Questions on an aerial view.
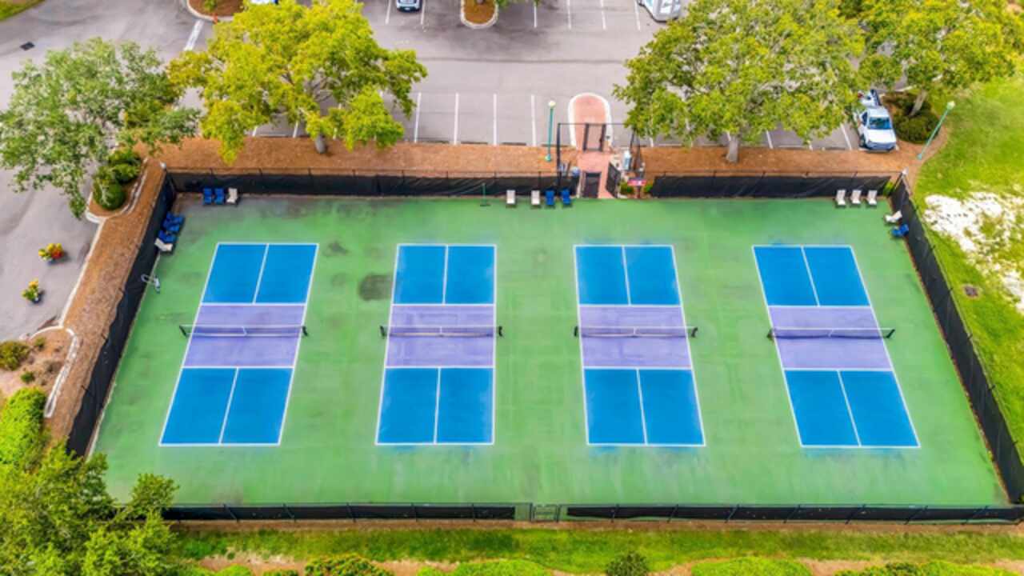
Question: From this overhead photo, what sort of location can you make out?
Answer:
sports ground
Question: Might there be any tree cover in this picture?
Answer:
Yes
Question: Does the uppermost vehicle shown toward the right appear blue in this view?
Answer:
No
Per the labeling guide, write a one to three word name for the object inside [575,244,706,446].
sports court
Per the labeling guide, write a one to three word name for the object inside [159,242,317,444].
sports court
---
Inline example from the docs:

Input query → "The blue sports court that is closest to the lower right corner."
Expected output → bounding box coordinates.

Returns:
[753,245,918,446]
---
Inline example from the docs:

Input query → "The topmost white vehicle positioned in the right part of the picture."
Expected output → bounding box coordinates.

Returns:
[633,0,679,23]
